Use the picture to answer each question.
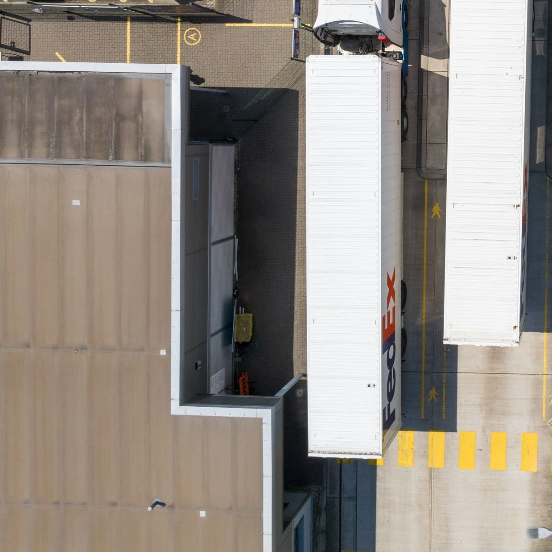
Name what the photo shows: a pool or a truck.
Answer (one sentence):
I can see a truck in this picture.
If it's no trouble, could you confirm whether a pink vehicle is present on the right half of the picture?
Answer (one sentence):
No, no pink vehicle appears on the right half of the picture.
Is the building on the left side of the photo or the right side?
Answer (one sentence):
You can find the building on the left side of the picture.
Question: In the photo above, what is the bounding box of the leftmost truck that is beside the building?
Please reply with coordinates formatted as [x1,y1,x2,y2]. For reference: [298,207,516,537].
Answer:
[305,0,406,457]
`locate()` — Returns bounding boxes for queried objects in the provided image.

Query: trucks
[444,0,529,345]
[305,0,406,457]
